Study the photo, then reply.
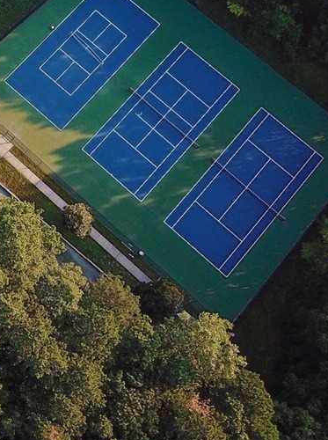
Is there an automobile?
No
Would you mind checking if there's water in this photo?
No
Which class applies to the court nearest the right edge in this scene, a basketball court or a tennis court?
tennis court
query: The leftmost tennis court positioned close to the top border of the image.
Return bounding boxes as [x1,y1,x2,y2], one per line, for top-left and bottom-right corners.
[7,0,162,130]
